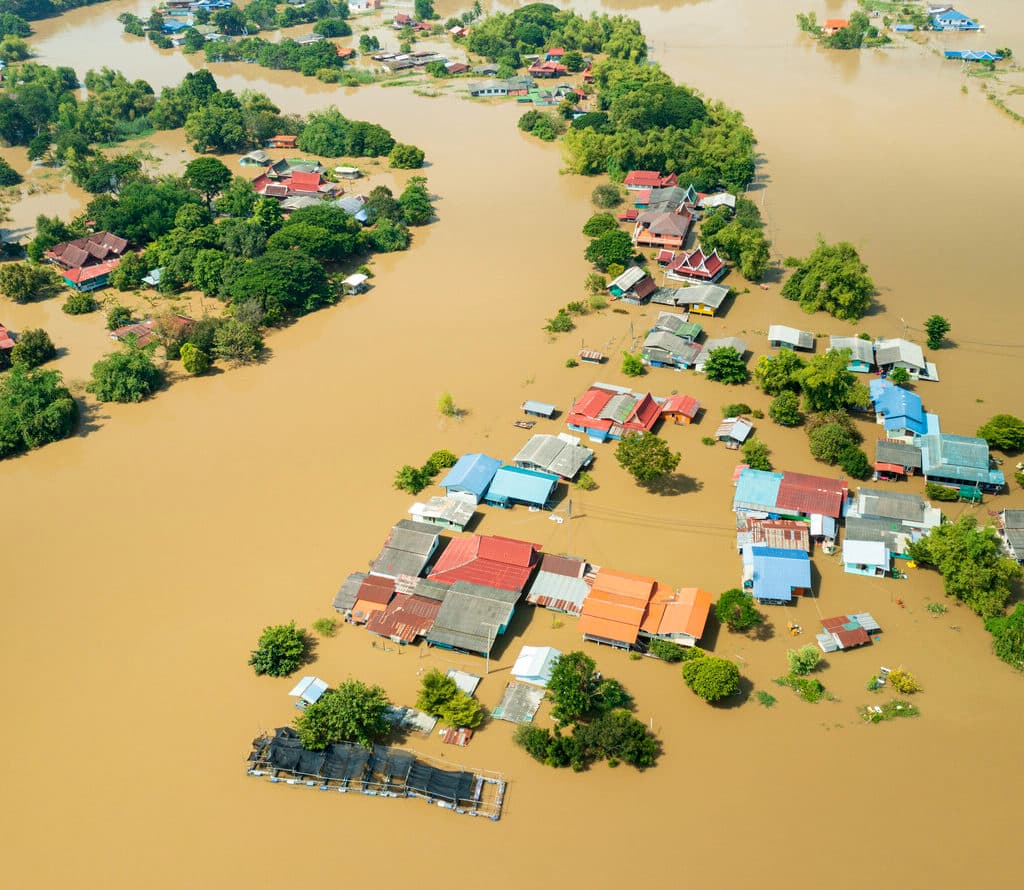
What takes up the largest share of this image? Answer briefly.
water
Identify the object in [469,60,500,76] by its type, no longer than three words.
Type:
house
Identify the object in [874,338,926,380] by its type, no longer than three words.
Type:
house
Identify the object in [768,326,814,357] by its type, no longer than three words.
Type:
shed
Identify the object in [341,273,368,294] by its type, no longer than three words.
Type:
building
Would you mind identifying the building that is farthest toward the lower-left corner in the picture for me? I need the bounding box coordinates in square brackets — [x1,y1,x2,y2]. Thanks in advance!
[288,676,329,710]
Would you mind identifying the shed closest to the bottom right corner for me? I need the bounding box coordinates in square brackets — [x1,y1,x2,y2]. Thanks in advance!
[816,613,880,654]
